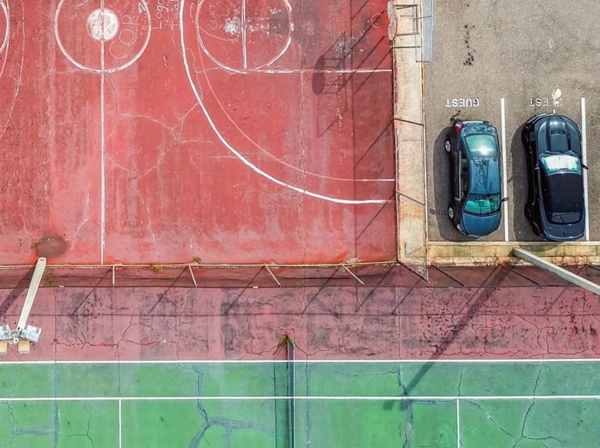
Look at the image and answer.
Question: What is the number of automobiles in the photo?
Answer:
2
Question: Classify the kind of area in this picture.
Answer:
sports ground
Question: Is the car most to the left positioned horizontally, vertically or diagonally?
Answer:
vertically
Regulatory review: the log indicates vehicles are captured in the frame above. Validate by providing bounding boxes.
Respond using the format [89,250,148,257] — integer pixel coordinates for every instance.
[443,116,511,237]
[521,113,591,242]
